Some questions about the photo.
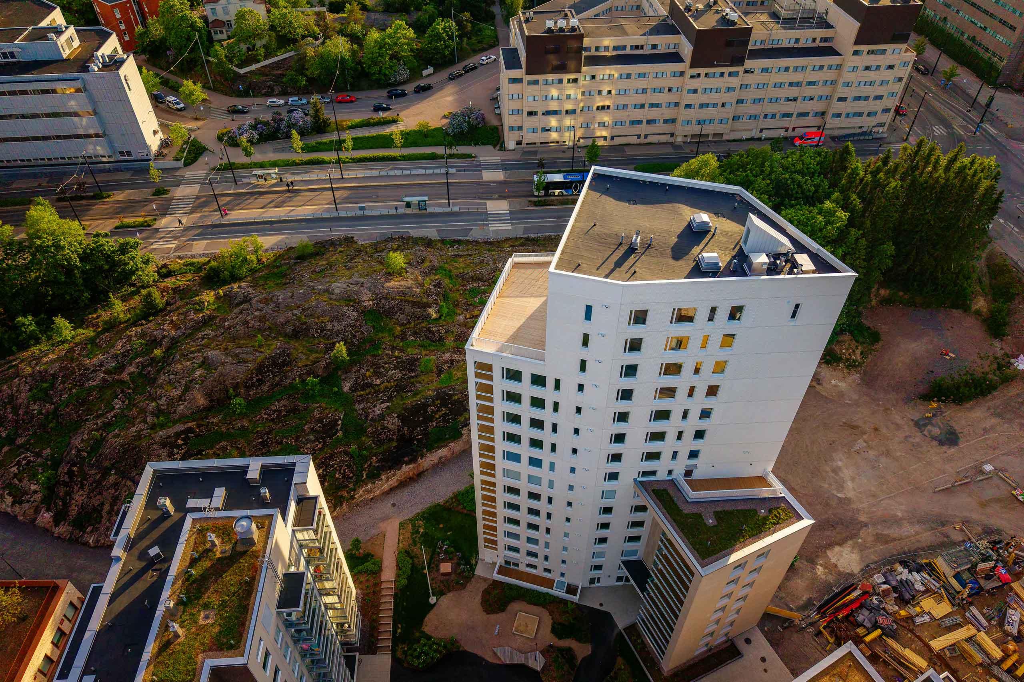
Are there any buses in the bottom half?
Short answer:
No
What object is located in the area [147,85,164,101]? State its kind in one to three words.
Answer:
car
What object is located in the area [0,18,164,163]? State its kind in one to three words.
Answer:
building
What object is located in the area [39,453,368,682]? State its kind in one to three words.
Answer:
building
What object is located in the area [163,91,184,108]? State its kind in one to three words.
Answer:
vehicle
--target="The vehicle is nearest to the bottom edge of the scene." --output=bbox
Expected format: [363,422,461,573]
[533,170,590,195]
